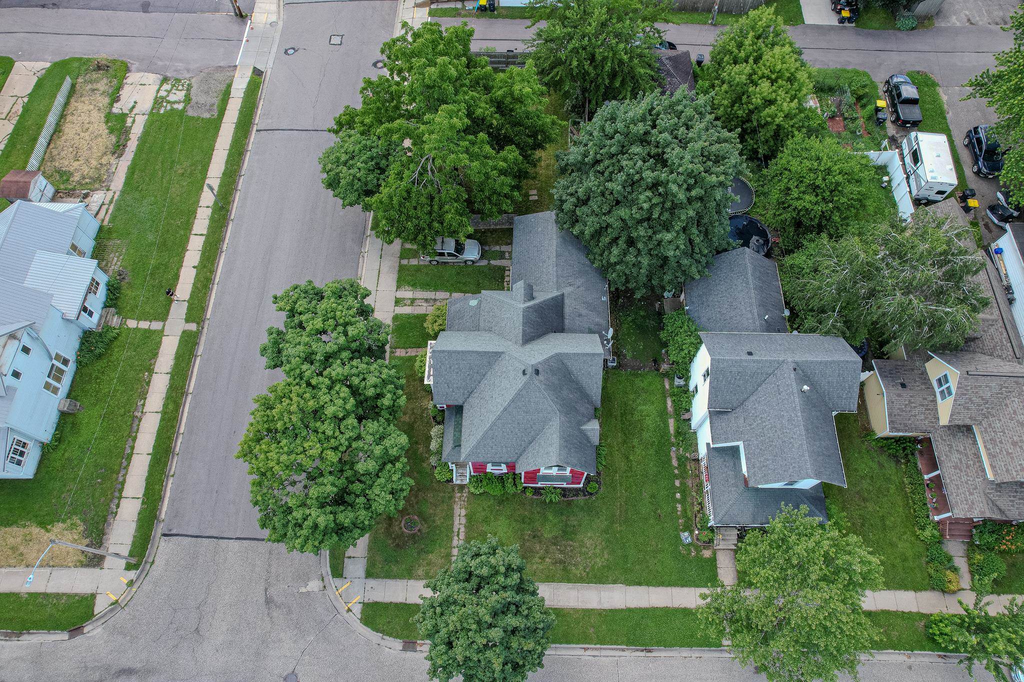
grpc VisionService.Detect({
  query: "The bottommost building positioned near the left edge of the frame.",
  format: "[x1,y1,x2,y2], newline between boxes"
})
[0,193,128,480]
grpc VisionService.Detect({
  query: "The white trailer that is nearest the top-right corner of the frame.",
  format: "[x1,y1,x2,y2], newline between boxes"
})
[899,130,959,204]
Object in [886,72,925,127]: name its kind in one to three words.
truck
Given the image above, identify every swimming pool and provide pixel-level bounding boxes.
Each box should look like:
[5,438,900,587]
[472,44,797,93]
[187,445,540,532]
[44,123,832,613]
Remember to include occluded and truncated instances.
[714,211,773,257]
